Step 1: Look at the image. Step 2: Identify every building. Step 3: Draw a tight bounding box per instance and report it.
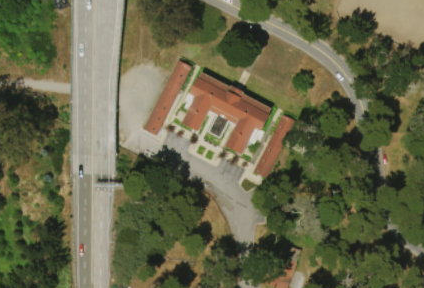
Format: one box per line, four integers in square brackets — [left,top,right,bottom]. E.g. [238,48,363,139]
[267,250,302,288]
[254,114,293,177]
[183,72,272,153]
[146,61,192,134]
